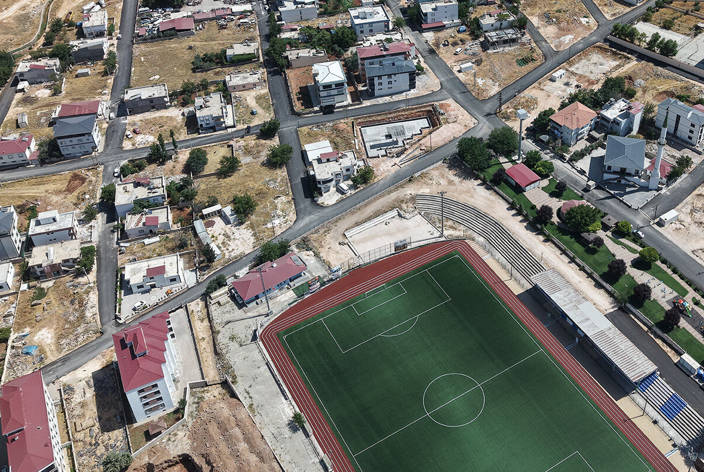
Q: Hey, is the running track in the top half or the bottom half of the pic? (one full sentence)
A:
You can find the running track in the bottom half.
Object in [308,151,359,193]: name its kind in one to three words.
house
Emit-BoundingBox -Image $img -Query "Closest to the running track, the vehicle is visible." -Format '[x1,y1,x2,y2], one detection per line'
[232,295,245,310]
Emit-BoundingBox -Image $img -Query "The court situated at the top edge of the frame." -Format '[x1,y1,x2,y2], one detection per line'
[635,21,689,45]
